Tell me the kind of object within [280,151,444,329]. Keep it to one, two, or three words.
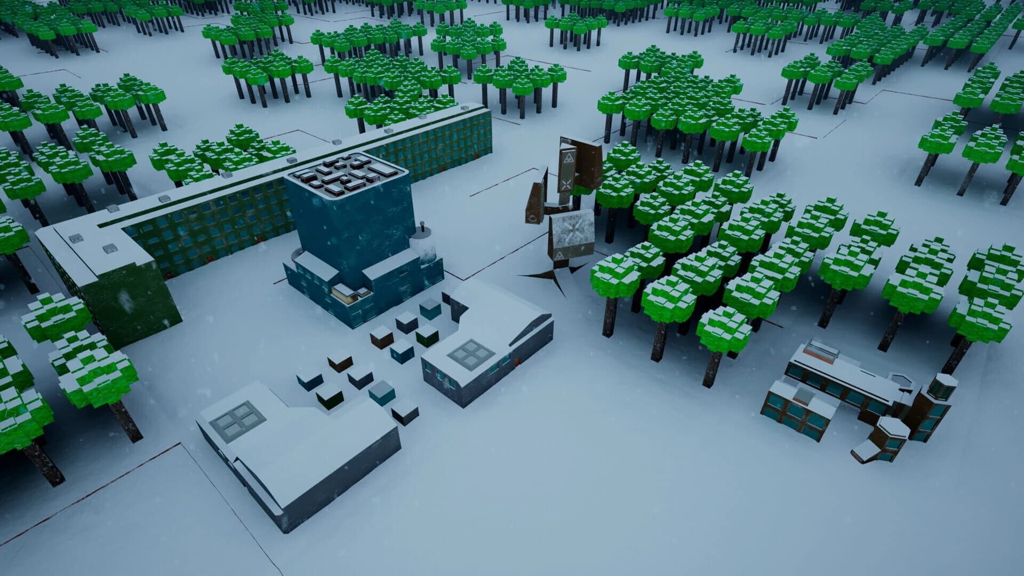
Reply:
building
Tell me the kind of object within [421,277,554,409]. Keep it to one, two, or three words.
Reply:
building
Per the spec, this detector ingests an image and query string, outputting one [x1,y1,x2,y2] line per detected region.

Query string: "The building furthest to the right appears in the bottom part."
[761,338,957,464]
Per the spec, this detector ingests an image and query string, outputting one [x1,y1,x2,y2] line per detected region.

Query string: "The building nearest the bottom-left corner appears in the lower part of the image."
[197,381,401,537]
